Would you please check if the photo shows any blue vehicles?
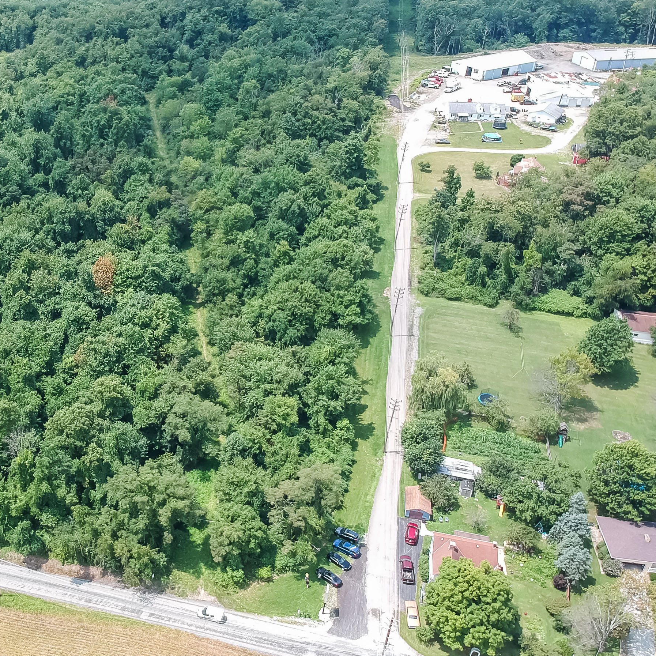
Yes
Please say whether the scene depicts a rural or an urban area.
rural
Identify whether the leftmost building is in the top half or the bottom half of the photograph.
bottom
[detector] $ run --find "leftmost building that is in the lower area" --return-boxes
[402,477,437,521]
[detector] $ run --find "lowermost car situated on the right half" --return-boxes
[405,598,422,627]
